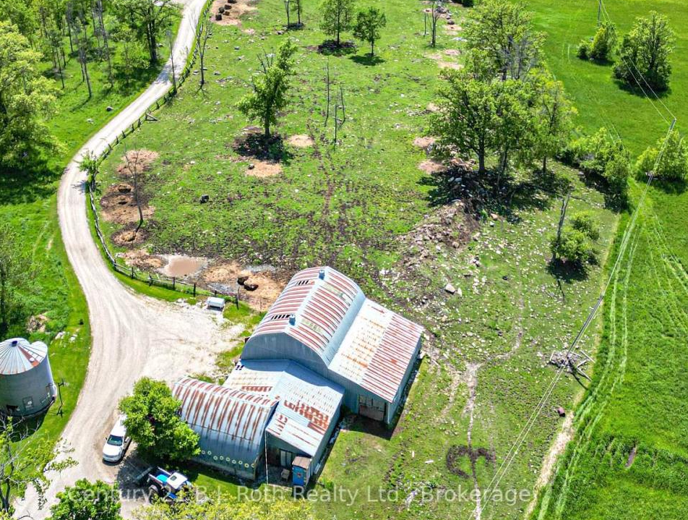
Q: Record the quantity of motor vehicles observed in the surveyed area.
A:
2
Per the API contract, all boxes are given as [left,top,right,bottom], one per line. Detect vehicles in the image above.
[104,416,133,457]
[140,468,198,511]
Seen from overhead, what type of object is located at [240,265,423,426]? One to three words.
barn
